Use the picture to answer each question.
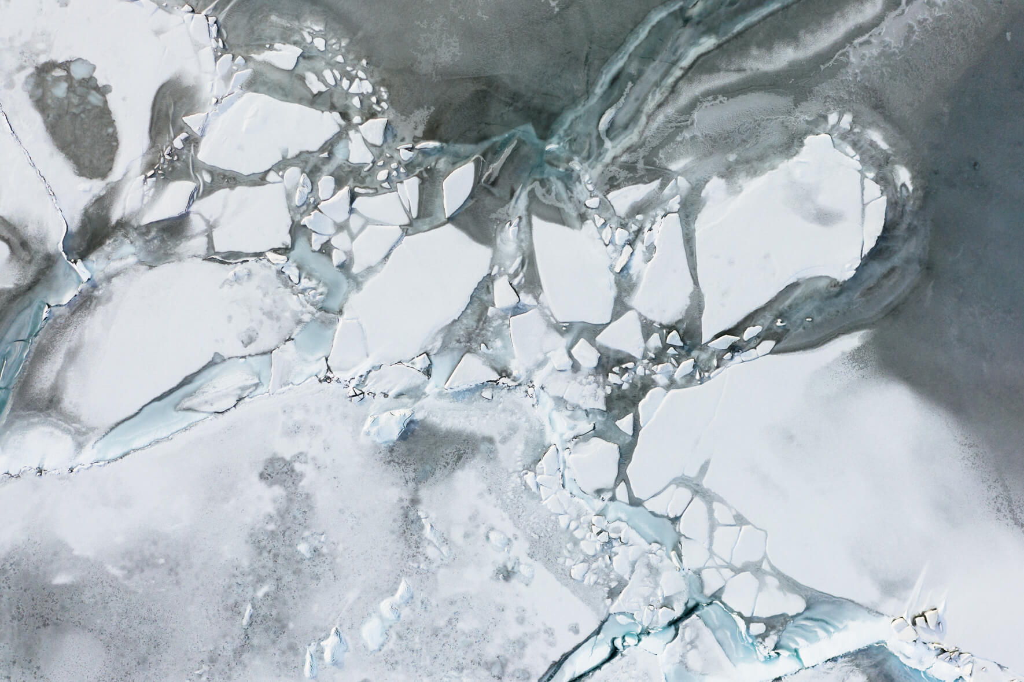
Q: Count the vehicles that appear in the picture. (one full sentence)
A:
The photo contains no vehicles.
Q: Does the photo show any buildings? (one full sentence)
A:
No, there appears to be no building in this shot.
